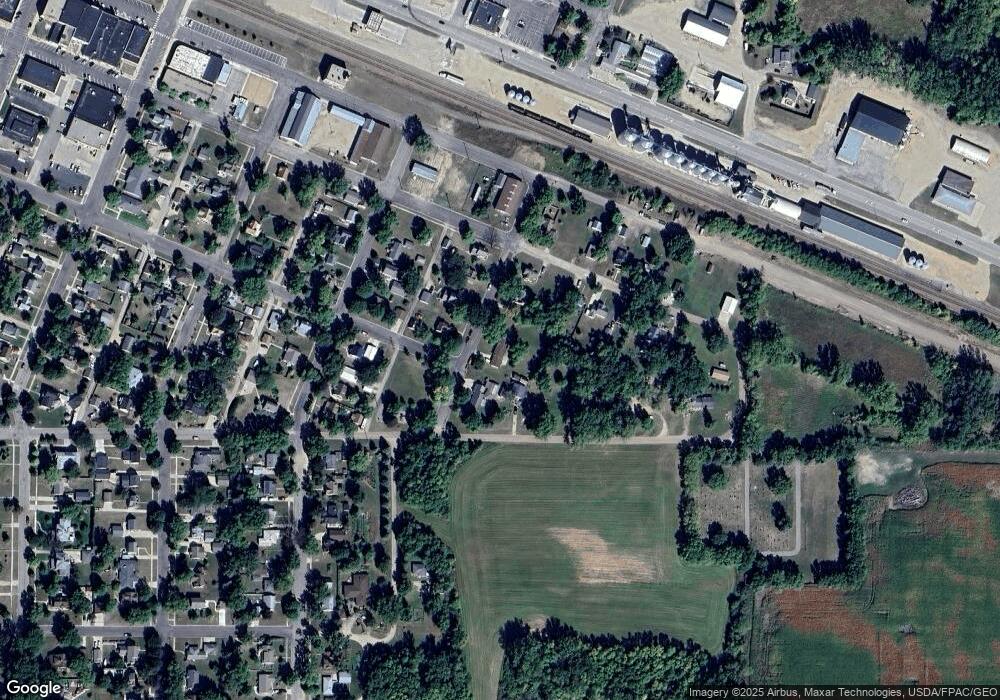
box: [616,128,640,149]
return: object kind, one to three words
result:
silo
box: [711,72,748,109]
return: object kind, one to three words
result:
barn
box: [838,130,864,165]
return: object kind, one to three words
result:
building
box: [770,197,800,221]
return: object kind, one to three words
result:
shed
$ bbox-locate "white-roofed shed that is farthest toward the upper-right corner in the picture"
[949,139,990,165]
